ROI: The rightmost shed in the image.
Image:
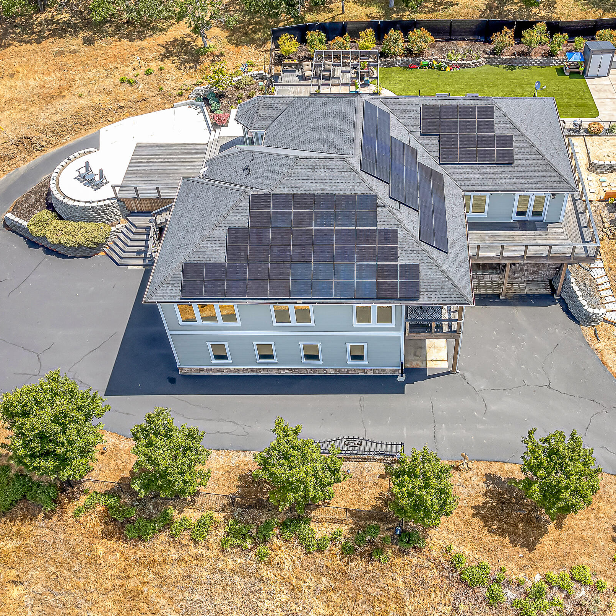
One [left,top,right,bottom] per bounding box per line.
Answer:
[587,44,616,78]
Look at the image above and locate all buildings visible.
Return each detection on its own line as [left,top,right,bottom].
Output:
[587,44,616,78]
[142,86,579,384]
